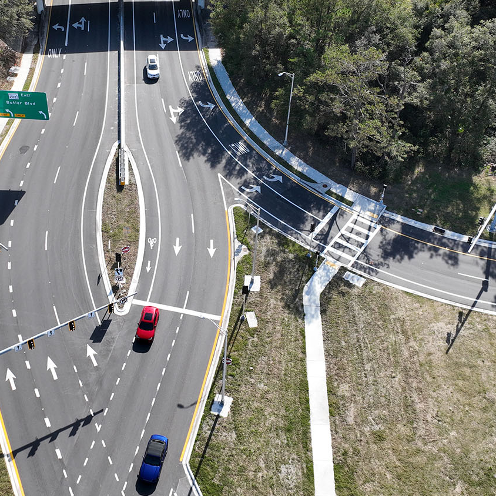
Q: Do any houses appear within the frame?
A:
No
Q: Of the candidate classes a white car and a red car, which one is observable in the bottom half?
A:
red car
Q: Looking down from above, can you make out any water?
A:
No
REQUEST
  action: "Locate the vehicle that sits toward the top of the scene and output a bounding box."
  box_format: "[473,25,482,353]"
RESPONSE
[144,56,161,80]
